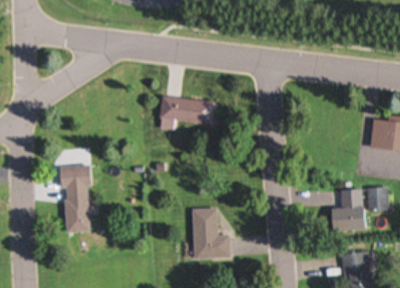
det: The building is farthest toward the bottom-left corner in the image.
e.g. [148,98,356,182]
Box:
[60,166,92,232]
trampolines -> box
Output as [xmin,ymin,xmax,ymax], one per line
[374,216,387,229]
[108,165,119,176]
